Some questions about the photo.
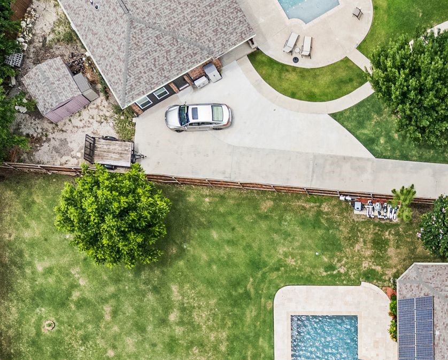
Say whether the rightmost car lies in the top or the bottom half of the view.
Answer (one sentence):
The rightmost car sits in the top half of the picture.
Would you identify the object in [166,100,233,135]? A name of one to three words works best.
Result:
car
